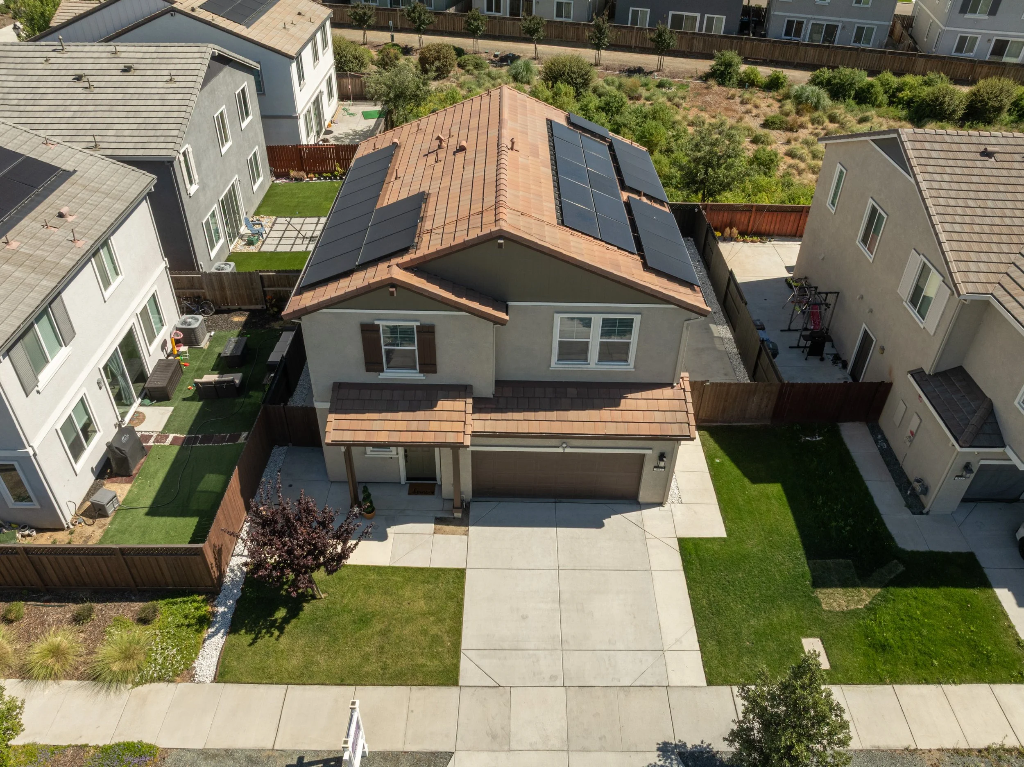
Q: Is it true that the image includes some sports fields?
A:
No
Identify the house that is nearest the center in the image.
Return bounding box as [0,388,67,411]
[280,83,709,515]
